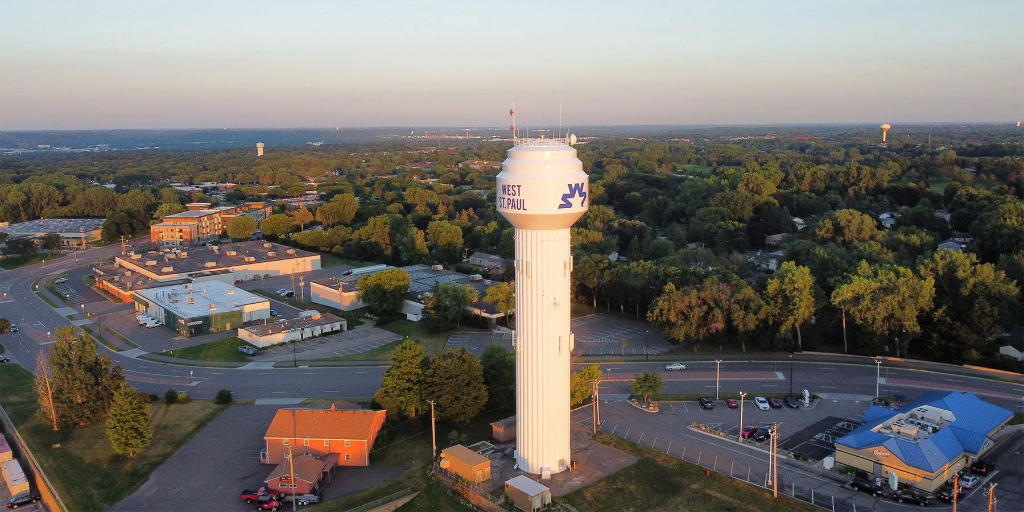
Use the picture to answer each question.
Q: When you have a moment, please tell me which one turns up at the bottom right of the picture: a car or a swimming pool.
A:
car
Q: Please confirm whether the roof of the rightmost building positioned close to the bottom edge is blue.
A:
Yes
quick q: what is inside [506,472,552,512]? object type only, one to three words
shed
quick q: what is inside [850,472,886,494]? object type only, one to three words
car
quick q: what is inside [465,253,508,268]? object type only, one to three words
house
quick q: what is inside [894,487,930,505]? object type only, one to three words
car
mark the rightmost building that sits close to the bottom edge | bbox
[833,388,1015,493]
